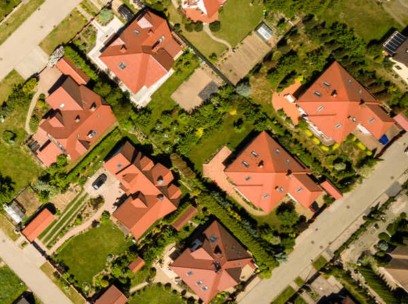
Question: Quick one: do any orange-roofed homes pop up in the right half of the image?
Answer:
Yes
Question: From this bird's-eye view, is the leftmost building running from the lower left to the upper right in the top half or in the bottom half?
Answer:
bottom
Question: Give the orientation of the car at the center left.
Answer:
at an angle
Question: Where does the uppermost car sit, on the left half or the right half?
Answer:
left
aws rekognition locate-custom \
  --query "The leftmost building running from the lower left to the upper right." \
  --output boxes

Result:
[21,208,55,242]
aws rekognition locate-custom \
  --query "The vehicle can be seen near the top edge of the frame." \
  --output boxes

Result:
[115,0,137,24]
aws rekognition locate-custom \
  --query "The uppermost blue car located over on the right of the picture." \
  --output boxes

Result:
[372,134,393,148]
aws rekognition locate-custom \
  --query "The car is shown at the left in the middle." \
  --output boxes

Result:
[88,170,110,193]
